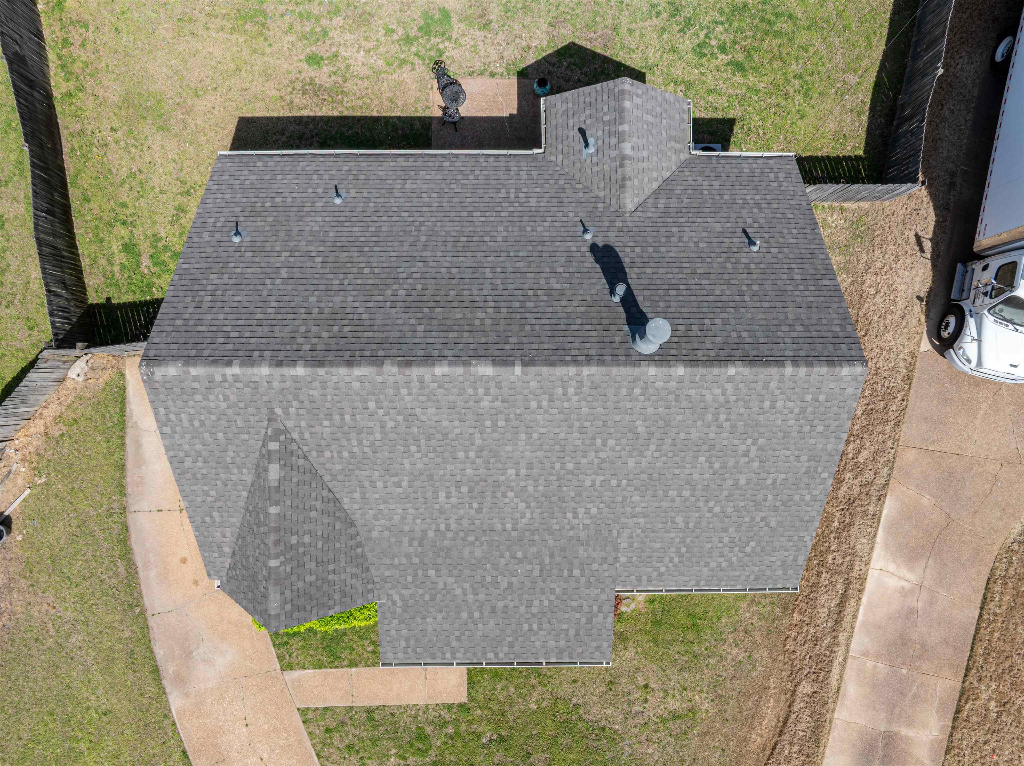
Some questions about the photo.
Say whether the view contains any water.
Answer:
No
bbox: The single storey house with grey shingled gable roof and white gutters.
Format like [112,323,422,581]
[138,77,868,668]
